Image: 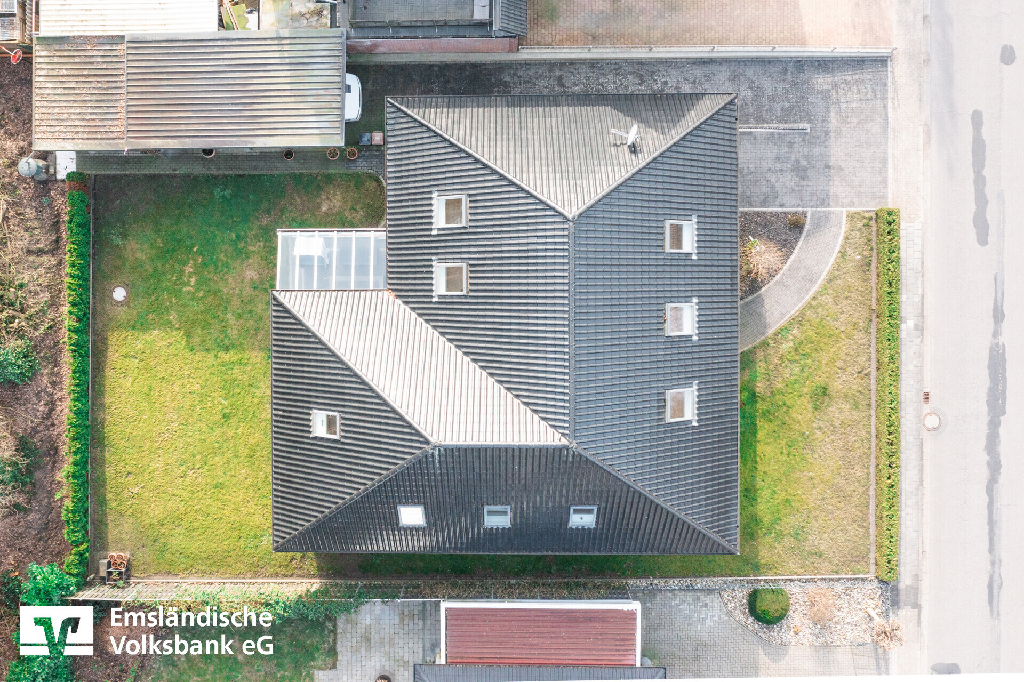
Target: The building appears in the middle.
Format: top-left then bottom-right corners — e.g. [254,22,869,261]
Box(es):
[270,92,741,555]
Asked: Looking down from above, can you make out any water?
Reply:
No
